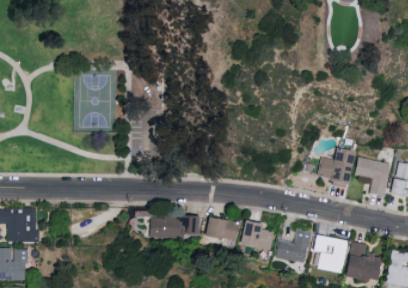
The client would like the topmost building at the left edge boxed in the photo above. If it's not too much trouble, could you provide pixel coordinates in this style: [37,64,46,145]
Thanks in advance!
[0,208,38,243]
